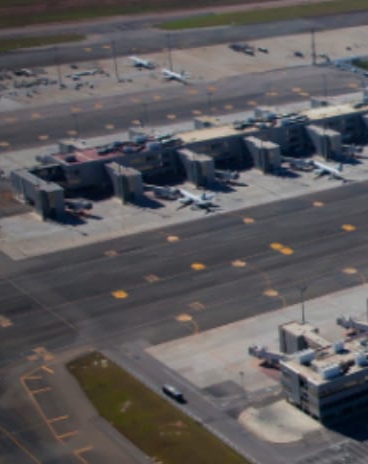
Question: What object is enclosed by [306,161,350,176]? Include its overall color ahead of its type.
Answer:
white airplane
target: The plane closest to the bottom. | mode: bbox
[170,187,220,204]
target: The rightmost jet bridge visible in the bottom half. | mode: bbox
[333,313,368,333]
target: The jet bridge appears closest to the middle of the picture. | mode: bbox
[142,184,183,200]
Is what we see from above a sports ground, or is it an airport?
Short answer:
airport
